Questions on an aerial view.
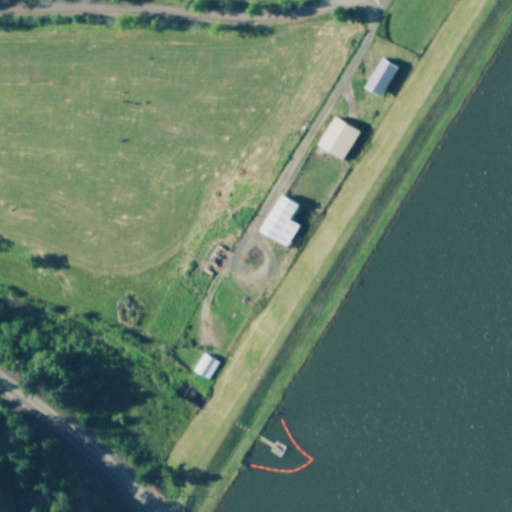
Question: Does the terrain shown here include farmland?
Yes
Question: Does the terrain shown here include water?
Yes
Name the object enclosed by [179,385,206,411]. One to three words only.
shed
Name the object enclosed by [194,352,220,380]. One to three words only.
shed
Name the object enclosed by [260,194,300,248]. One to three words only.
barn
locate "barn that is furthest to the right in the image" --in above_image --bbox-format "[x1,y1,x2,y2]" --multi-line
[365,56,400,97]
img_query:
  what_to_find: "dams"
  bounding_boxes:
[140,0,512,512]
